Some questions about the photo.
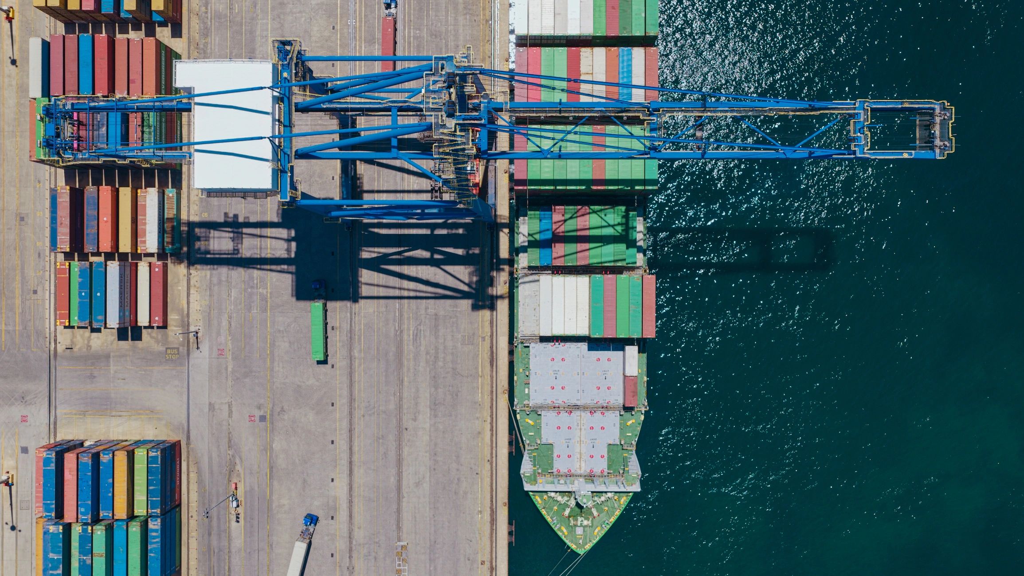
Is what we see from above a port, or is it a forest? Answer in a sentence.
What you see here is a port.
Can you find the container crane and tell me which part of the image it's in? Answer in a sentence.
You can find the container crane in the top area of the picture.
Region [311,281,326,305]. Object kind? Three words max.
work vehicle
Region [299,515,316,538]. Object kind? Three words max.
work vehicle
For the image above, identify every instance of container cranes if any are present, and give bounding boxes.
[35,37,961,244]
